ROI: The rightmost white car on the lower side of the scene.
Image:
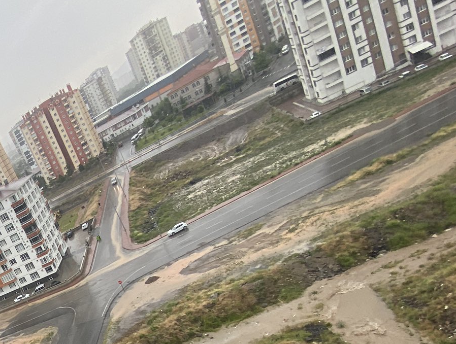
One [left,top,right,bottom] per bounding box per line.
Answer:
[167,221,187,234]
